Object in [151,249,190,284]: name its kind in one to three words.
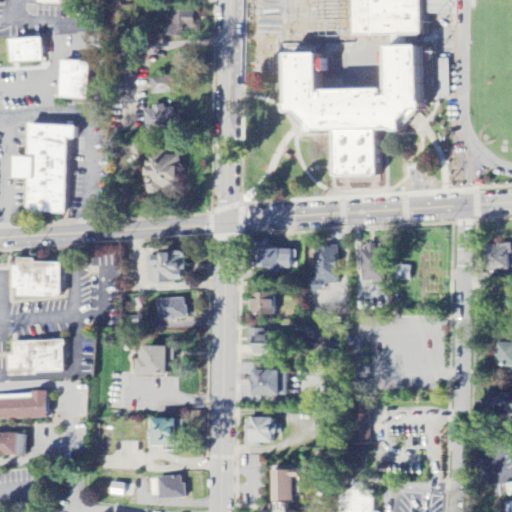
house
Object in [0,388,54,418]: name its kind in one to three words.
building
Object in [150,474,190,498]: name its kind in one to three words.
house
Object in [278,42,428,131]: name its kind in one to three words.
building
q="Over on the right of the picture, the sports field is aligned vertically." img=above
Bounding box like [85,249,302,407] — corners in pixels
[473,0,512,159]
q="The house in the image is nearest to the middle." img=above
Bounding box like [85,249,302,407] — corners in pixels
[258,246,299,270]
